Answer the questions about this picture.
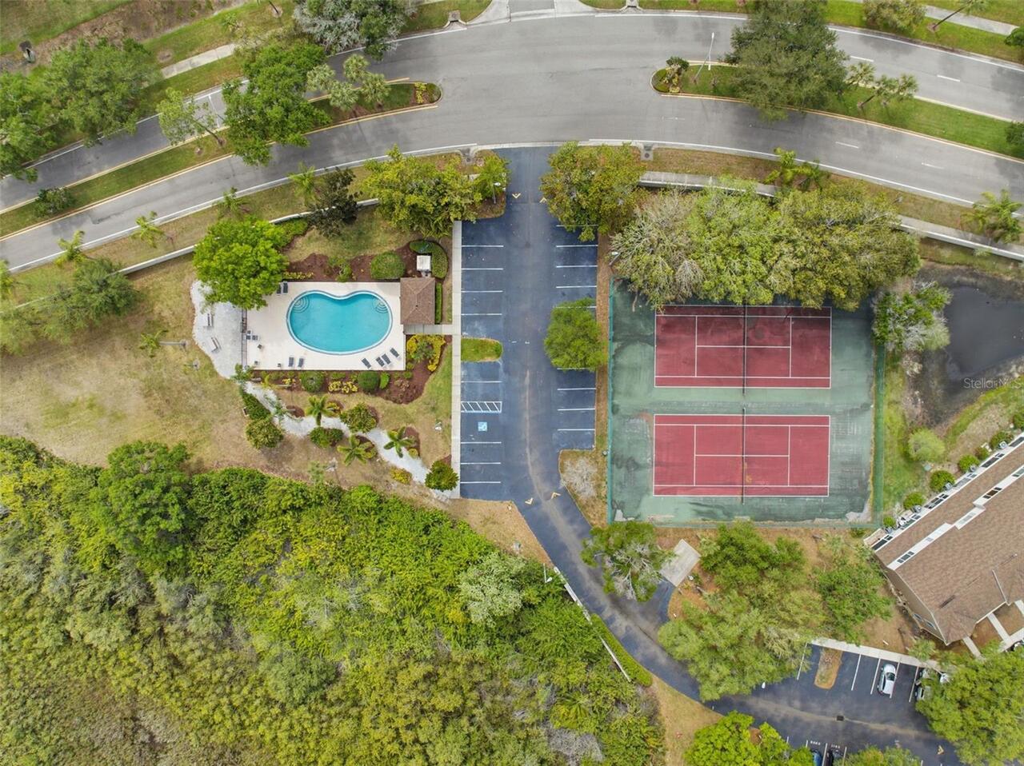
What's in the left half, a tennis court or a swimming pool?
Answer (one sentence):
There is a swimming pool in the left half.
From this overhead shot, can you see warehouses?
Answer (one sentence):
No, I find no warehouse anywhere in the image.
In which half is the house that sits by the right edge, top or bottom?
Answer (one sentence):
The house that sits by the right edge sits in the bottom half of the picture.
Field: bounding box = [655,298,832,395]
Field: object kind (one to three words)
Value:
tennis court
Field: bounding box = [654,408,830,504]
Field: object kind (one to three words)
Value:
tennis court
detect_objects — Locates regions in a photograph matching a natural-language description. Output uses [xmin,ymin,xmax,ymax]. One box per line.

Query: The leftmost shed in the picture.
[400,277,435,325]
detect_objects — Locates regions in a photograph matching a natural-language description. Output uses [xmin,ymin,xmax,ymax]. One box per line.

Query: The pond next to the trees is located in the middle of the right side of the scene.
[939,282,1024,397]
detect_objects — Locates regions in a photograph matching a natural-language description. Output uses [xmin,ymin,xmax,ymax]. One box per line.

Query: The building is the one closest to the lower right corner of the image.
[872,434,1024,647]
